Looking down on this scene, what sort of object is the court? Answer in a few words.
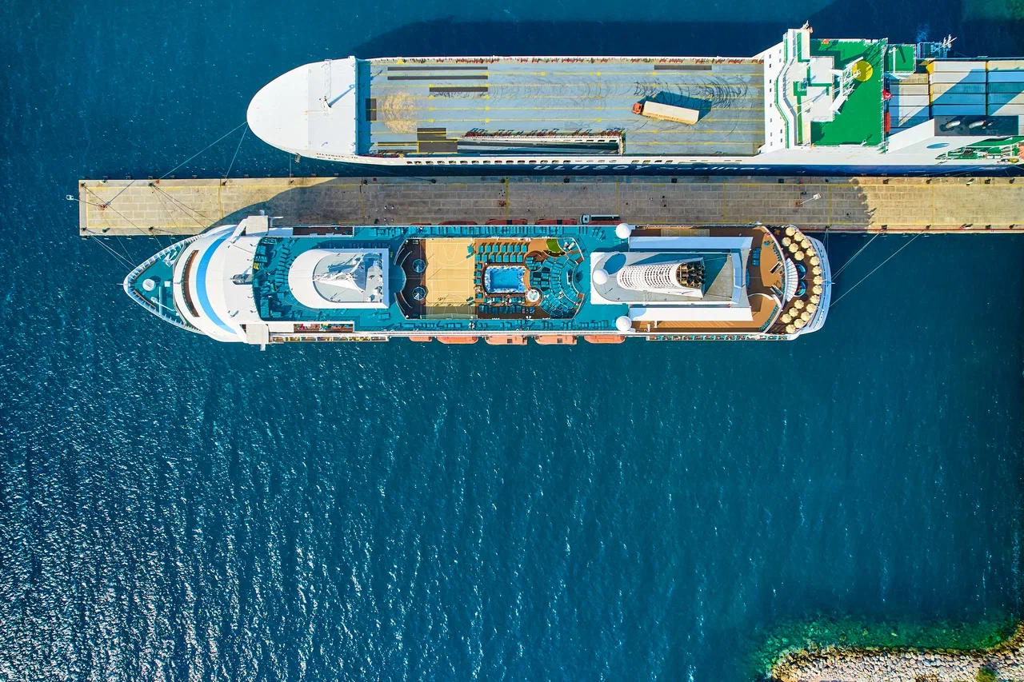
basketball court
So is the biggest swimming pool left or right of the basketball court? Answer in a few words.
to the right of it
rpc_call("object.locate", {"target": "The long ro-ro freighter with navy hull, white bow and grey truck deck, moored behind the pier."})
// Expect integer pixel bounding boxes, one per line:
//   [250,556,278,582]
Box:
[248,14,1024,176]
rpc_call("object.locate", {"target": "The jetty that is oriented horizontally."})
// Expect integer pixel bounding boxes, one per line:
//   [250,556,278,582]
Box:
[79,175,1024,238]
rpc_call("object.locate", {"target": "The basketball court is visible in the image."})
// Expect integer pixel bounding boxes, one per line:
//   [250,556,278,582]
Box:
[426,241,475,315]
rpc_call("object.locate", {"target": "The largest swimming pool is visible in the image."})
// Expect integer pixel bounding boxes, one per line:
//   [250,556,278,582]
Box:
[482,263,529,296]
